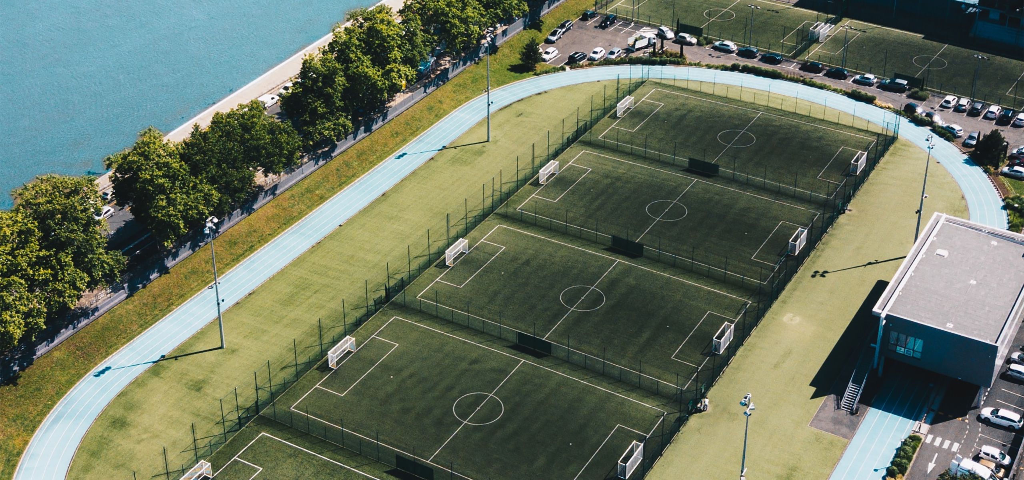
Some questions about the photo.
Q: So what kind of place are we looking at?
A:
sports ground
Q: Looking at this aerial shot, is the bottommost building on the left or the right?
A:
right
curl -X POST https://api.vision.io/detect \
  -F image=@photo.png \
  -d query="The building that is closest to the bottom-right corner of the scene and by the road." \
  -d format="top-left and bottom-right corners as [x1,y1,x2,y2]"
[831,211,1024,413]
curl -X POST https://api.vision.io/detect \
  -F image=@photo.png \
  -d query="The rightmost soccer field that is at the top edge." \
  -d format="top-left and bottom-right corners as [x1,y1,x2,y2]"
[789,15,1024,116]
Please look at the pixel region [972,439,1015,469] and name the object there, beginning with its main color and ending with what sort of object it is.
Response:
white car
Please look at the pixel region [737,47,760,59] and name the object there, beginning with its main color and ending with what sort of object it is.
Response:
black vehicle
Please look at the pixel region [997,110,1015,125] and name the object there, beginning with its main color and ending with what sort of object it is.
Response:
black car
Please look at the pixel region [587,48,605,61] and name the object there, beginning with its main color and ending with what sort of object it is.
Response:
white vehicle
